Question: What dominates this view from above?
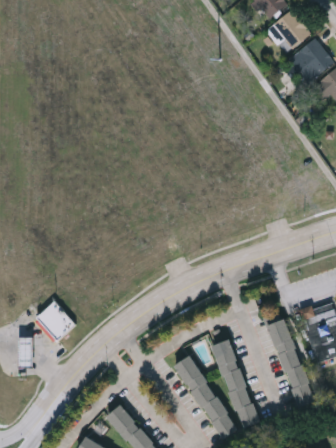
grass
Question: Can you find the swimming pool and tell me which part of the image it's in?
bottom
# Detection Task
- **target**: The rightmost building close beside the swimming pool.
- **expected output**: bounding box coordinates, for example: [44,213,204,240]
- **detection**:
[212,340,259,428]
